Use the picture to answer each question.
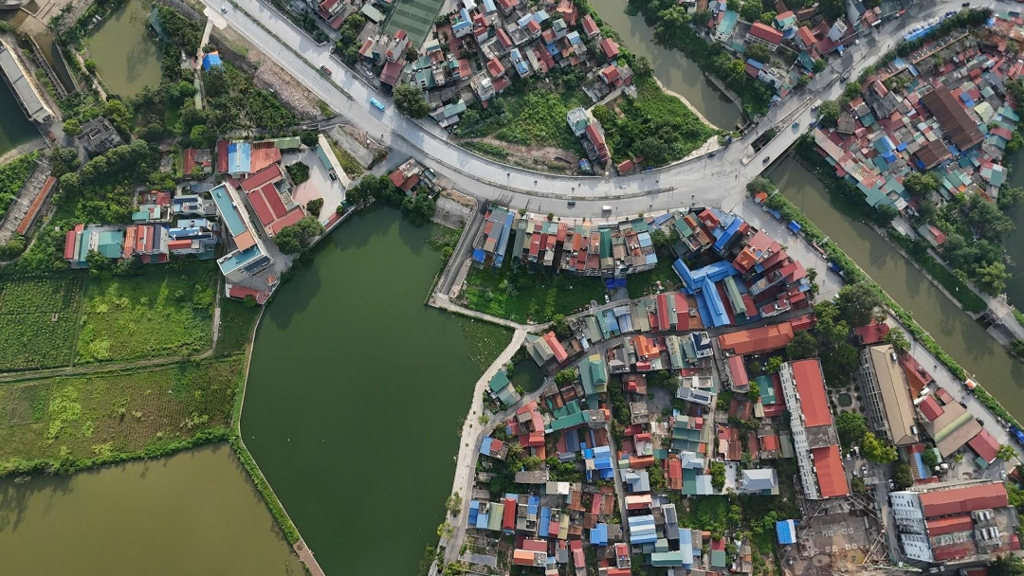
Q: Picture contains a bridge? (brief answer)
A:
Yes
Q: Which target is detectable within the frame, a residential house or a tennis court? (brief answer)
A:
residential house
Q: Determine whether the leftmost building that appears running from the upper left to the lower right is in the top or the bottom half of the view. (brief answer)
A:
top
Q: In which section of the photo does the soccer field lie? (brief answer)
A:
top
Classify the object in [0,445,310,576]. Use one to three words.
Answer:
pond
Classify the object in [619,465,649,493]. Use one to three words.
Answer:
house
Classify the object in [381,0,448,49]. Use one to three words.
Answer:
soccer field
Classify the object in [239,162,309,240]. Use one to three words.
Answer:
building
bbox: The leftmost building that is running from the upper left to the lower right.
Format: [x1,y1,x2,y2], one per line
[0,30,64,132]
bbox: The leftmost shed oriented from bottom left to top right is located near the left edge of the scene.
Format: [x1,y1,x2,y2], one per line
[12,181,58,242]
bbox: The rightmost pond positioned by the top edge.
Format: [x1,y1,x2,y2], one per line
[90,0,161,97]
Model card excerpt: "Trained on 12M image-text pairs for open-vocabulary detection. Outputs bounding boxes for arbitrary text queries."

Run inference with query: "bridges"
[728,116,802,181]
